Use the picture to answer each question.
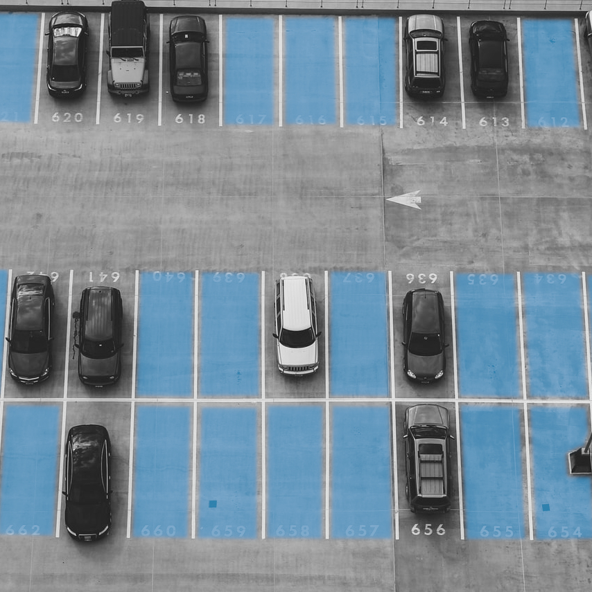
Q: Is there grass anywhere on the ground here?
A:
No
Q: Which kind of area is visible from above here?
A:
parking lot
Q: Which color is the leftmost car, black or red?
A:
black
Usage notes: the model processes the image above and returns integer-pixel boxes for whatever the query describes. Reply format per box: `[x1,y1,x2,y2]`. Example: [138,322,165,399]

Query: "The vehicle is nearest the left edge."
[2,277,58,384]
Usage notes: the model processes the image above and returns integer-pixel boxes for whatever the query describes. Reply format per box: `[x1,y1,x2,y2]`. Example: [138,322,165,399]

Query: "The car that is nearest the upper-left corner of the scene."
[43,14,92,98]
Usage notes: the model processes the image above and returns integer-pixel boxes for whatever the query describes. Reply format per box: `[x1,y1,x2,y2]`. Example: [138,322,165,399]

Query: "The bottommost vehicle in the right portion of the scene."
[402,404,456,512]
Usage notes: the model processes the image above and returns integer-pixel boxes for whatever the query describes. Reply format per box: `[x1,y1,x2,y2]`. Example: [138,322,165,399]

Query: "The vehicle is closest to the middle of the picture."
[269,276,325,378]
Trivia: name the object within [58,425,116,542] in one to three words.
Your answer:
car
